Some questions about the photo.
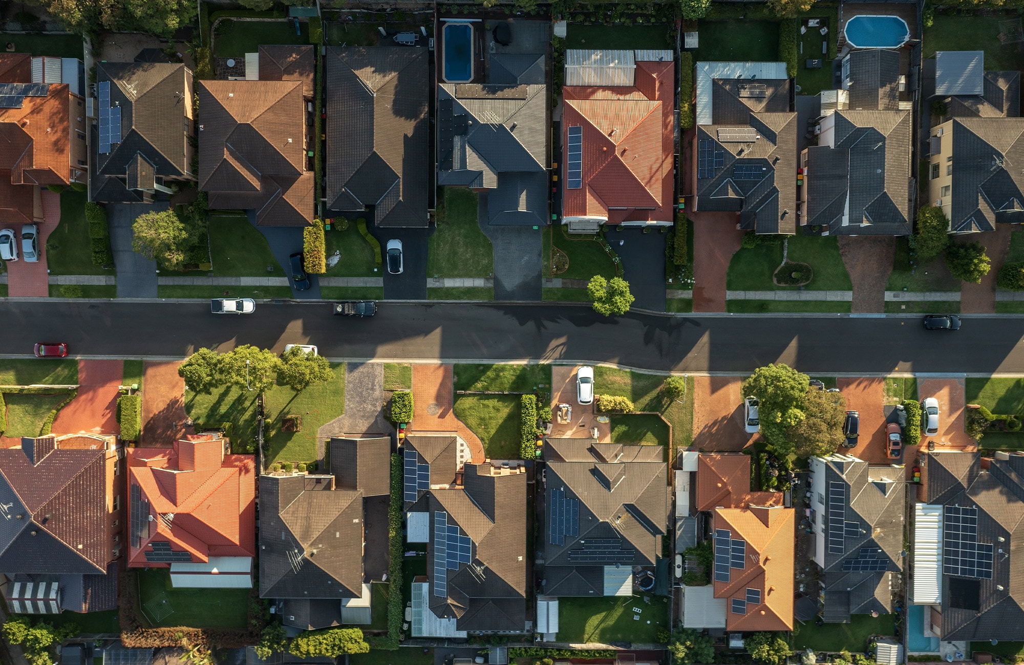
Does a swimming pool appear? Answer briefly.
Yes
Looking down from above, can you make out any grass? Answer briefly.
Yes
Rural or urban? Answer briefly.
urban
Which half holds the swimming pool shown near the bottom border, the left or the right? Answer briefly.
right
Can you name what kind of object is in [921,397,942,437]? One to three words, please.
car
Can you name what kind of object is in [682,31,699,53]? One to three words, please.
shed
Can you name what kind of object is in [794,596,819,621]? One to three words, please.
umbrella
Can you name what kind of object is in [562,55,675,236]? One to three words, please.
house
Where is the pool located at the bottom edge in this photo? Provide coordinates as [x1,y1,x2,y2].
[907,603,941,652]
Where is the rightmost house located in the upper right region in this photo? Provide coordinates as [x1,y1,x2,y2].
[932,69,1024,234]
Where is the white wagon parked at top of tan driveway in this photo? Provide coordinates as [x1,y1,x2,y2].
[576,365,595,405]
